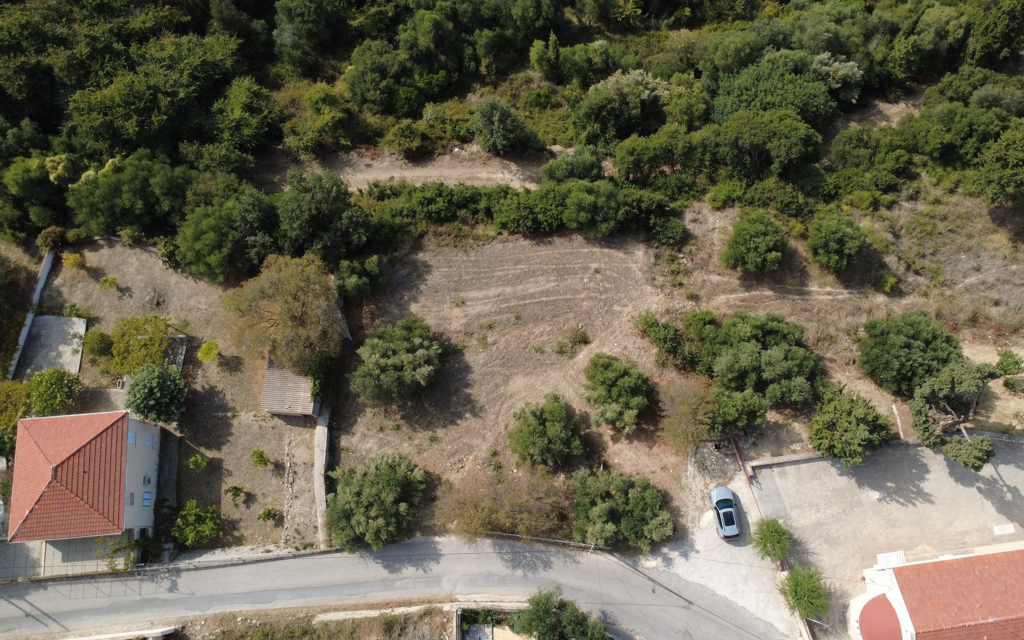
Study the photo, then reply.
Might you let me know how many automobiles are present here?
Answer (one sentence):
In total, 1 automobile can be seen.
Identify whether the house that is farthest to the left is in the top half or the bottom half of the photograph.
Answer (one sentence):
It is in the bottom half that the house that is farthest to the left appears.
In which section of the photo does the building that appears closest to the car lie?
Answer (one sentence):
The building that appears closest to the car sits in the bottom right section of the image.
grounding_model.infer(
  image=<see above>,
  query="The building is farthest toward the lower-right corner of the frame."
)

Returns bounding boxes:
[843,536,1024,640]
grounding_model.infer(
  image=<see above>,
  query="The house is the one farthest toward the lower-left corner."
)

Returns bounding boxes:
[4,410,159,543]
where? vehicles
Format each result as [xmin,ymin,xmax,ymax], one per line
[710,487,740,541]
